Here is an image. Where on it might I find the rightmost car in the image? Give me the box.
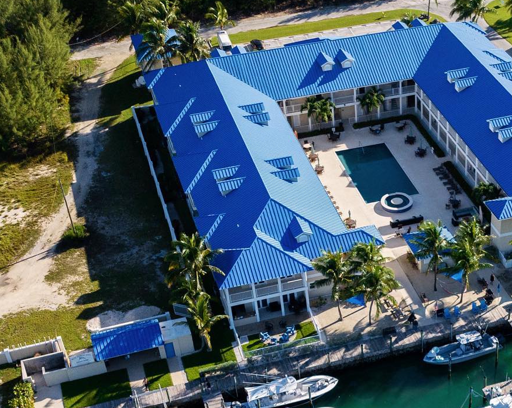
[252,35,265,50]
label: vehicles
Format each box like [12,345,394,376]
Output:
[215,25,233,50]
[252,35,265,50]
